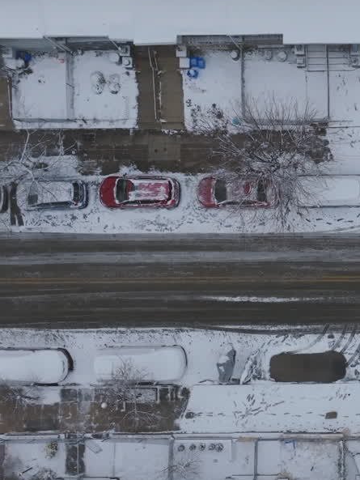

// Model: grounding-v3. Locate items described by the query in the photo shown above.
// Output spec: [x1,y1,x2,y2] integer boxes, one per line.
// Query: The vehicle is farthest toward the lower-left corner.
[0,349,77,387]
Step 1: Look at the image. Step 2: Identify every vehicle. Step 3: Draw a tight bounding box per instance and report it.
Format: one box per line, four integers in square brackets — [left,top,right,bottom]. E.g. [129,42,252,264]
[0,349,77,387]
[198,175,276,212]
[101,174,183,212]
[19,176,91,213]
[291,173,360,211]
[92,347,191,385]
[0,181,13,214]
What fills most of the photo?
paved ground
